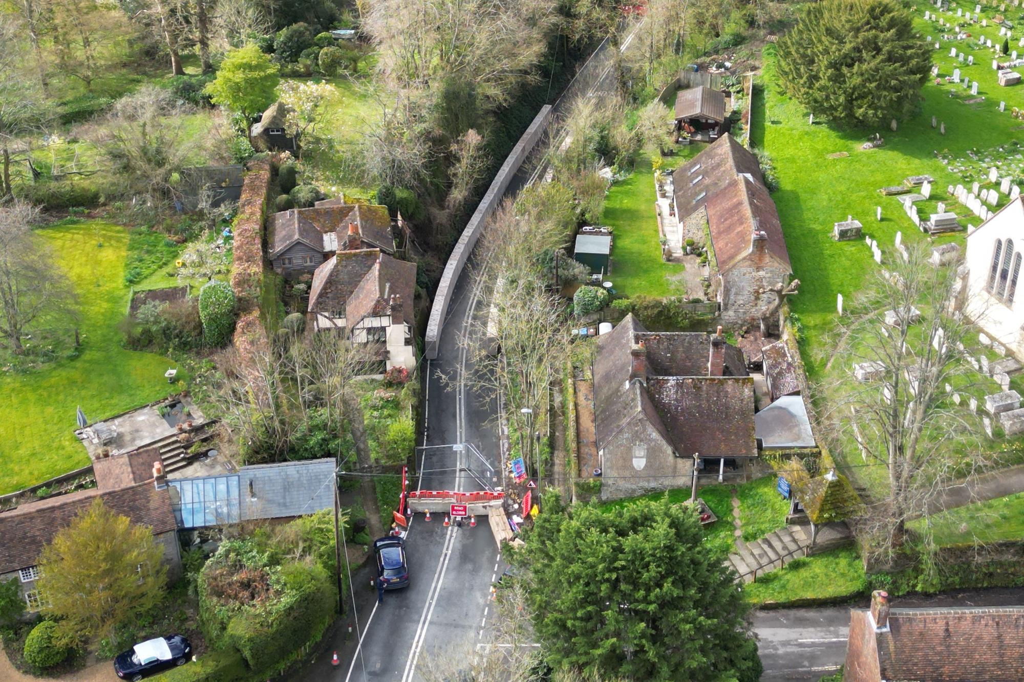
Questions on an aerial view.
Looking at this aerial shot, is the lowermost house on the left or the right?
right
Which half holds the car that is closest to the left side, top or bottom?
bottom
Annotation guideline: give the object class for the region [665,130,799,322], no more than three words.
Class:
house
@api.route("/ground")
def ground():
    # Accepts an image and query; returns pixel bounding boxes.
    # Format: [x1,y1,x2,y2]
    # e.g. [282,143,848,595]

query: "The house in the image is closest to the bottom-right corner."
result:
[839,584,1024,682]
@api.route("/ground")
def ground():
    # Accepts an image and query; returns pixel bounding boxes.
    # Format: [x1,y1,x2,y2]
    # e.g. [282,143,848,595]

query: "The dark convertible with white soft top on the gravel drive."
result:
[123,636,201,681]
